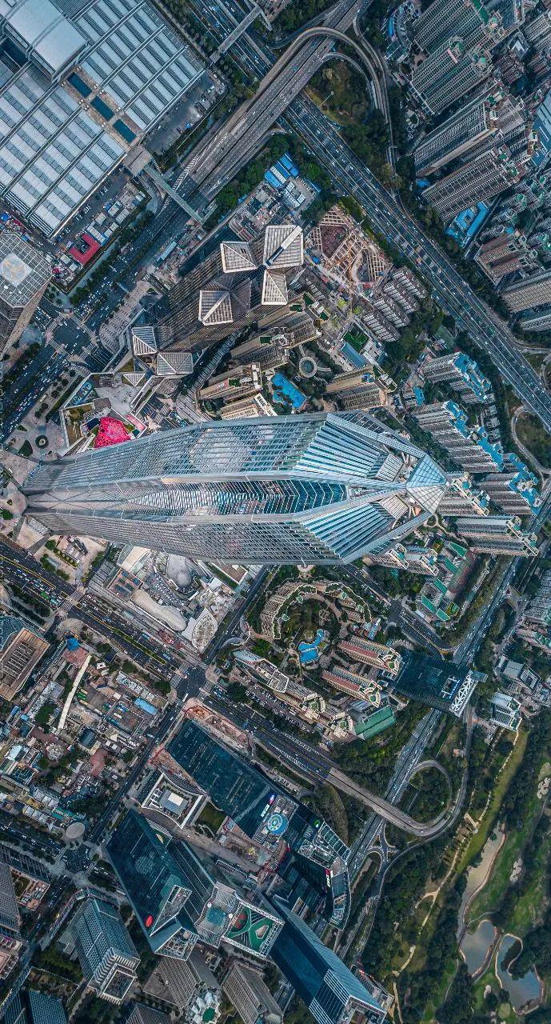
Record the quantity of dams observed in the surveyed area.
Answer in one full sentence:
I count no dams.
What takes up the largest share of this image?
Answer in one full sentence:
The largest share of the image is taken up by buildings.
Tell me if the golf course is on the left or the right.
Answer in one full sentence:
The golf course is on the right side of the image.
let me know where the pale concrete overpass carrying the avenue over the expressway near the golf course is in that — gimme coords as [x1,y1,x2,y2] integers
[320,762,416,827]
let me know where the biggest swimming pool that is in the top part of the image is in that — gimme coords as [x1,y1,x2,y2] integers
[269,372,306,407]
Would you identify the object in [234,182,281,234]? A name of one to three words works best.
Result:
building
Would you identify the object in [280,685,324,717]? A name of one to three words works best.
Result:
building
